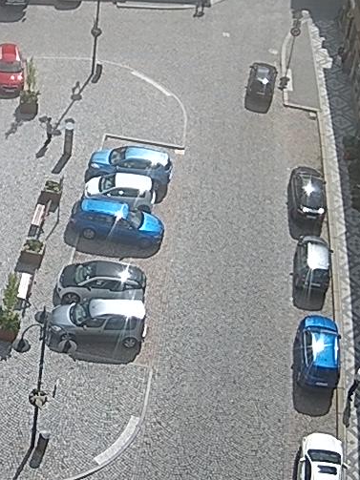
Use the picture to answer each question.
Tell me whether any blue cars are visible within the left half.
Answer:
Yes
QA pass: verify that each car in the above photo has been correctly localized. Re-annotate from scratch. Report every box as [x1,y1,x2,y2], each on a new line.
[294,314,350,387]
[57,261,150,308]
[291,236,342,297]
[85,171,160,210]
[70,198,168,245]
[290,174,335,228]
[50,303,149,362]
[89,146,173,185]
[0,45,25,90]
[246,73,283,110]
